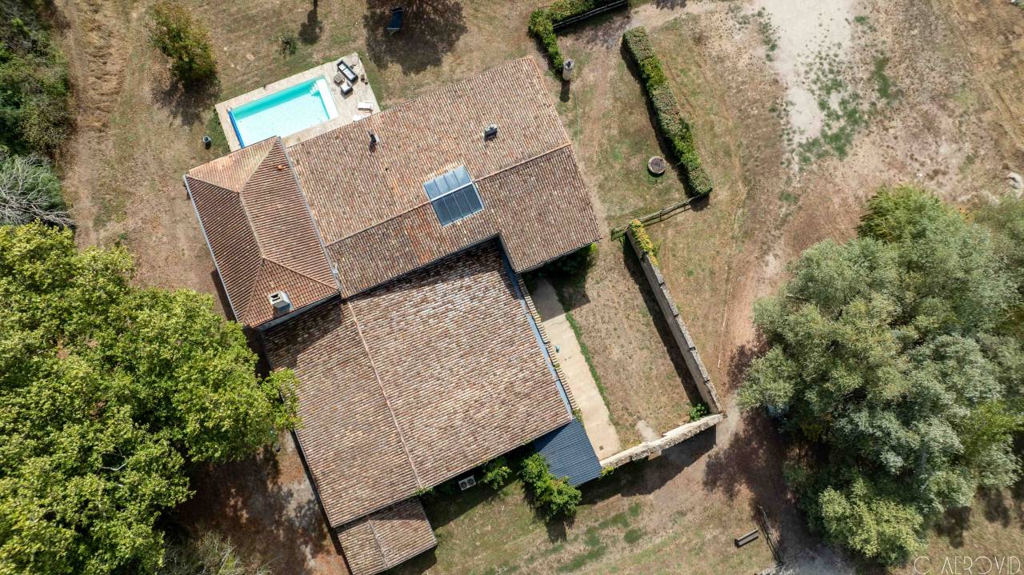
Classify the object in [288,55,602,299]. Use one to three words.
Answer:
house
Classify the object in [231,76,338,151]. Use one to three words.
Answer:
swimming pool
